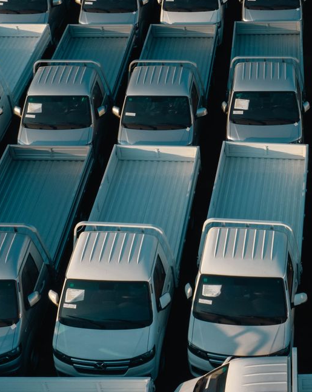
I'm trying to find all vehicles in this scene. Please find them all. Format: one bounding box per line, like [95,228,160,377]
[16,28,135,169]
[219,24,312,149]
[0,27,49,162]
[155,0,230,47]
[238,0,310,24]
[181,147,308,381]
[49,149,202,385]
[179,352,312,392]
[113,28,215,152]
[0,0,69,49]
[0,150,98,379]
[77,0,152,48]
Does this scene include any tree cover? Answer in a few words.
No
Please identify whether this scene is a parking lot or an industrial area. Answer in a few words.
parking lot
